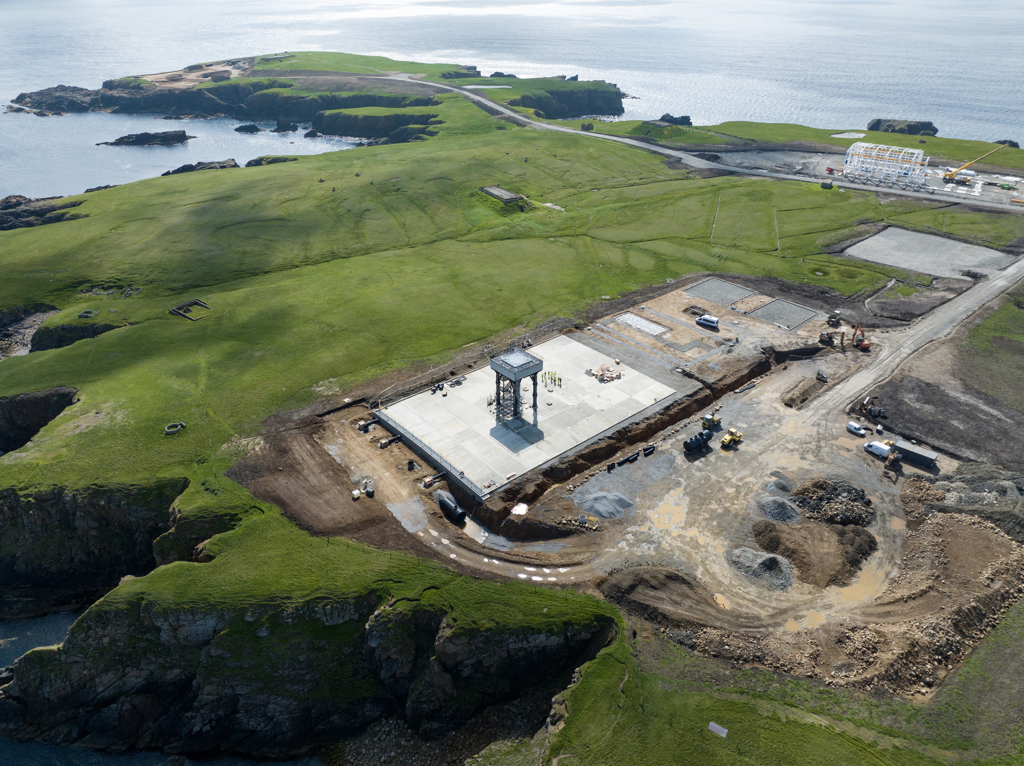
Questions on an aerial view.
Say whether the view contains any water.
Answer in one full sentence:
Yes, there's water in this view.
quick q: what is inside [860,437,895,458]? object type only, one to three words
vehicle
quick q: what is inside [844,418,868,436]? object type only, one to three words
vehicle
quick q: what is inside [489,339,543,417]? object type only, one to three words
water tower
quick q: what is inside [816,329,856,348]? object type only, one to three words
work vehicle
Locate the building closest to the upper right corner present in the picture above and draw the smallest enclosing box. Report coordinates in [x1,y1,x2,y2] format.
[841,142,936,188]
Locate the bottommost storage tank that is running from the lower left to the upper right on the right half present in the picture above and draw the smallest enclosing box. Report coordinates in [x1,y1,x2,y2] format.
[681,430,716,460]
